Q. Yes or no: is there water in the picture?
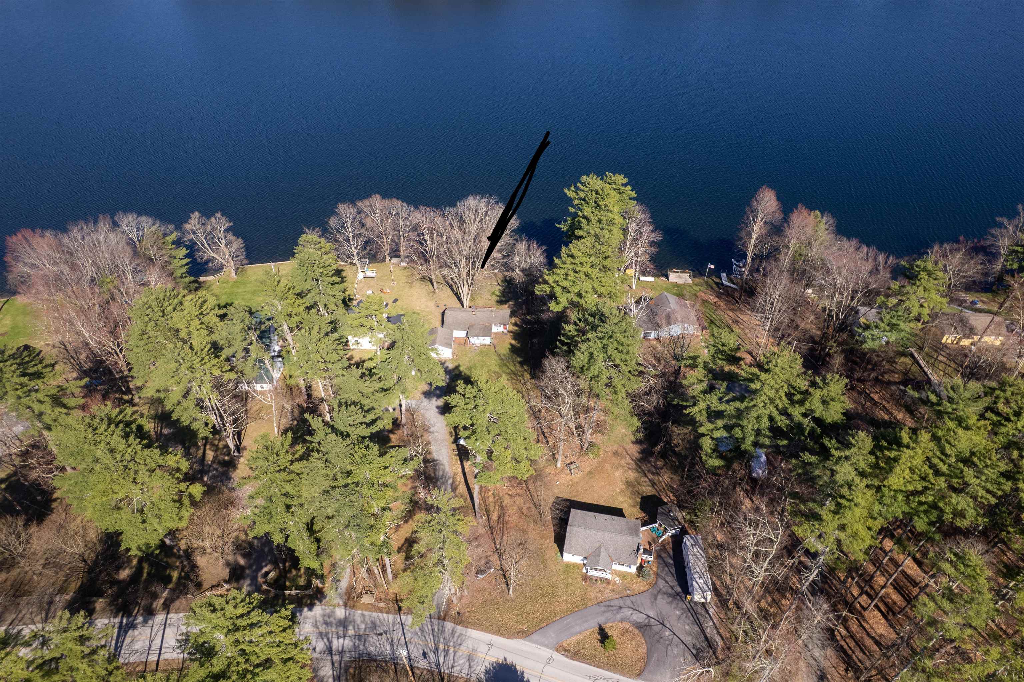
Yes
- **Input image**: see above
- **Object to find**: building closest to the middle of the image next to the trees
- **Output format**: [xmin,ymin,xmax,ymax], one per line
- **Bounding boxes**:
[429,301,510,358]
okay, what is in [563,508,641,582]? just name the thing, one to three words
house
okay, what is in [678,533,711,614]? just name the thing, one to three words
trailer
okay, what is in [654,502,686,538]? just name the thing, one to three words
gazebo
